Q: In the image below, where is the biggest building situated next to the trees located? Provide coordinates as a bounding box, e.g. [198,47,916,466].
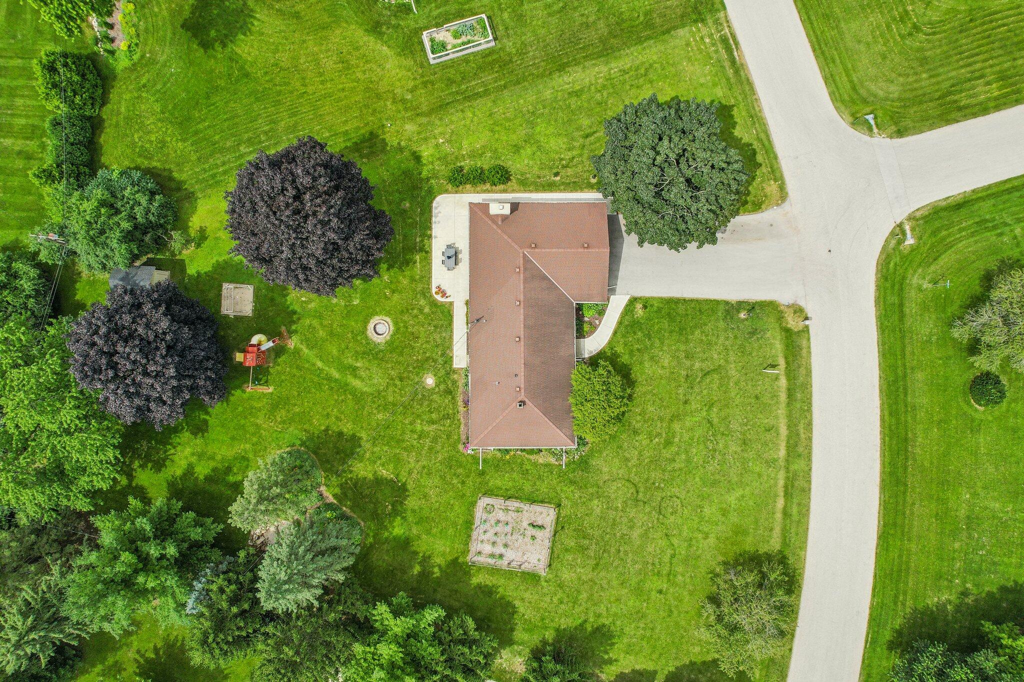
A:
[467,201,618,468]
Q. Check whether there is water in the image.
No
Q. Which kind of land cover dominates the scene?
grass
